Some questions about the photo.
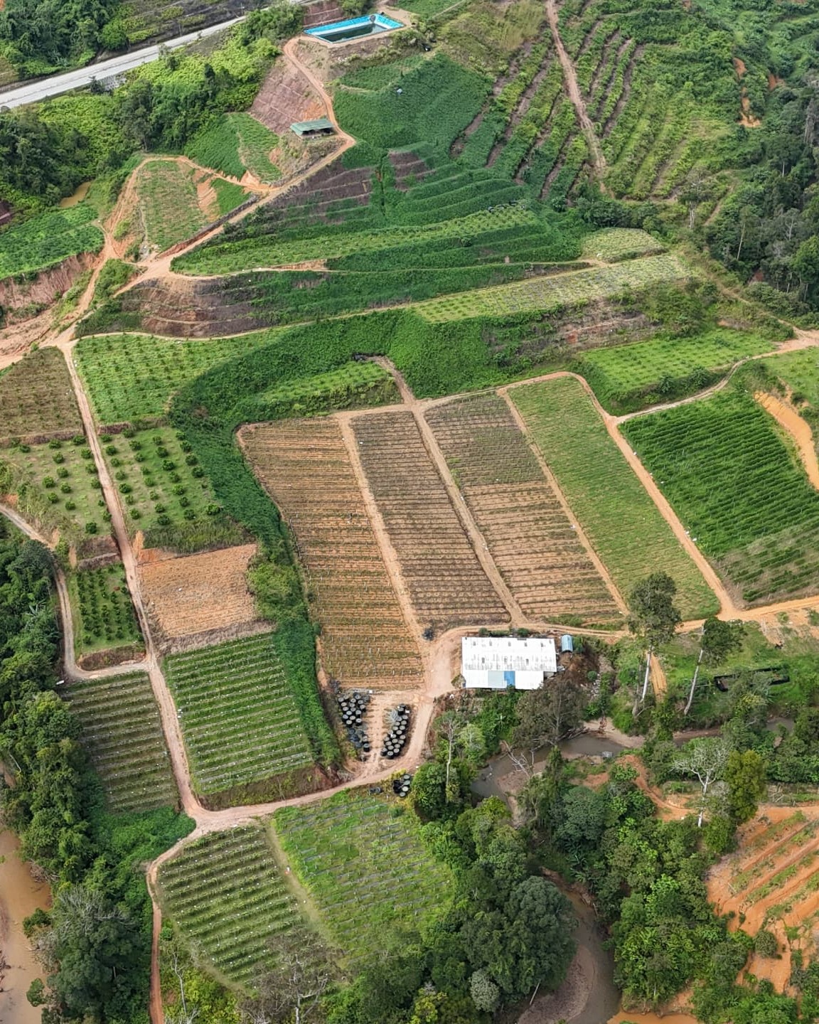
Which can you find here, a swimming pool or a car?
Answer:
swimming pool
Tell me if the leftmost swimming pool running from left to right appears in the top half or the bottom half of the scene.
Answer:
top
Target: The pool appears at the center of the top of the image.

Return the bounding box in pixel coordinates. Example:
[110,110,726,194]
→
[304,14,404,43]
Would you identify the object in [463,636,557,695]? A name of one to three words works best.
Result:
shed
